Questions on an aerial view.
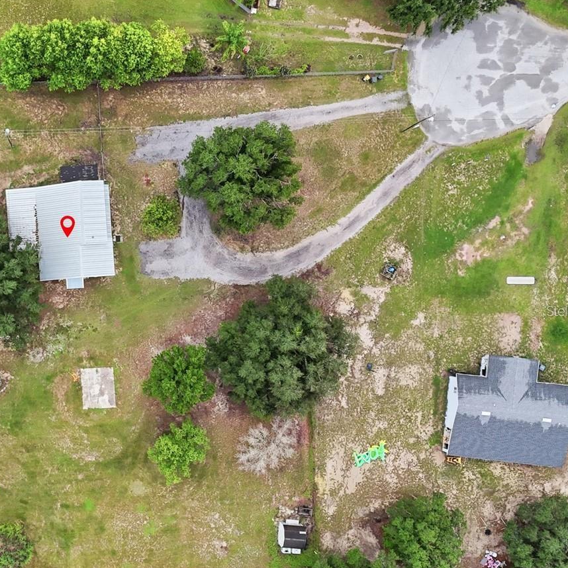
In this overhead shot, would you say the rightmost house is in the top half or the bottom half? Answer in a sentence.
Seen from above, the rightmost house lies in the bottom half of the view.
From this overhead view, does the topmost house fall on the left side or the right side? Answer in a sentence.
It is on the left.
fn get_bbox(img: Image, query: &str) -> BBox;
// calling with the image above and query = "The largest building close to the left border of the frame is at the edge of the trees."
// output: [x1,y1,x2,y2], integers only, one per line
[6,180,115,289]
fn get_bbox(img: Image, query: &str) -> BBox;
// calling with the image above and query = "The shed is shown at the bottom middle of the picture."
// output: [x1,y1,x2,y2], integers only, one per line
[281,520,307,549]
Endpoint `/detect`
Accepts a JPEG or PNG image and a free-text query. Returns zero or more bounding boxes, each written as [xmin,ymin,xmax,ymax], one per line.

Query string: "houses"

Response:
[438,355,568,468]
[6,180,115,289]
